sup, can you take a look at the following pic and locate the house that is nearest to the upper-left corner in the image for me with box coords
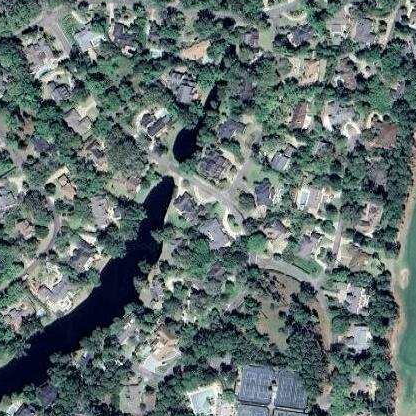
[26,35,57,69]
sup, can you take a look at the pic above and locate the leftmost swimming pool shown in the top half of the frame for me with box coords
[33,65,52,78]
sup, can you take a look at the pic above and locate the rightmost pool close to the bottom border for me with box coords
[187,384,222,416]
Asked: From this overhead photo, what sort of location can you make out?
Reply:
residential area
